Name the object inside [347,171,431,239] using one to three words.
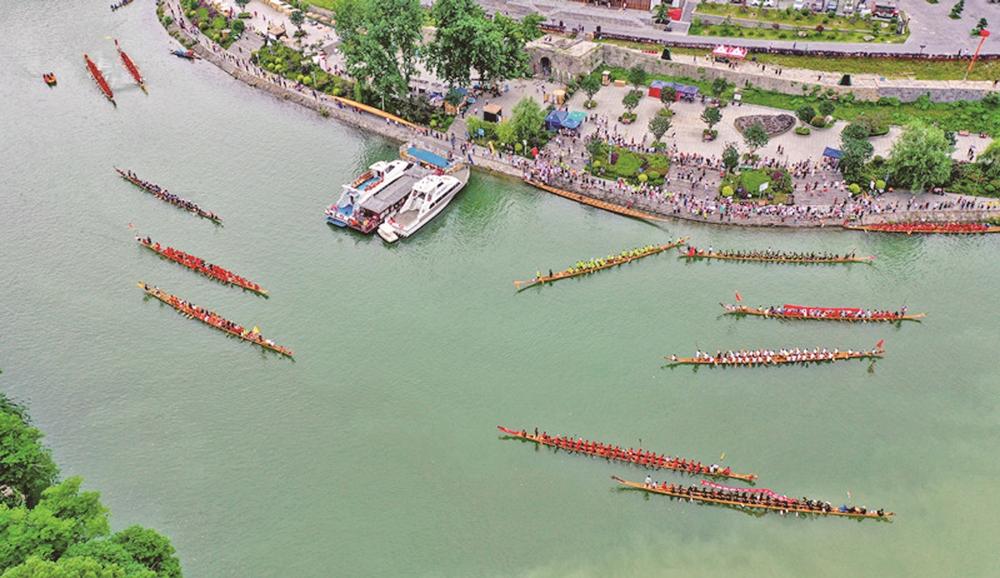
vessel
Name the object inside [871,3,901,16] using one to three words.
vehicle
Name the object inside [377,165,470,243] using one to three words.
boat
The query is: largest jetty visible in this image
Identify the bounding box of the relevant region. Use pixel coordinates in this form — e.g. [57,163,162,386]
[399,144,466,180]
